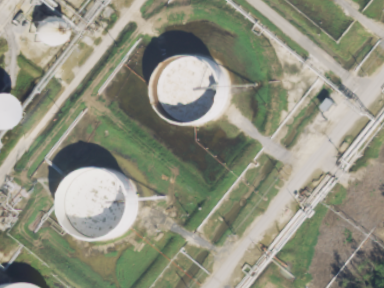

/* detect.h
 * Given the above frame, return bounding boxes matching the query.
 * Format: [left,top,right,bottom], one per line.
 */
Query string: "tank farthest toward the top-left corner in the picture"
[36,14,72,48]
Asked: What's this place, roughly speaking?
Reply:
industrial area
